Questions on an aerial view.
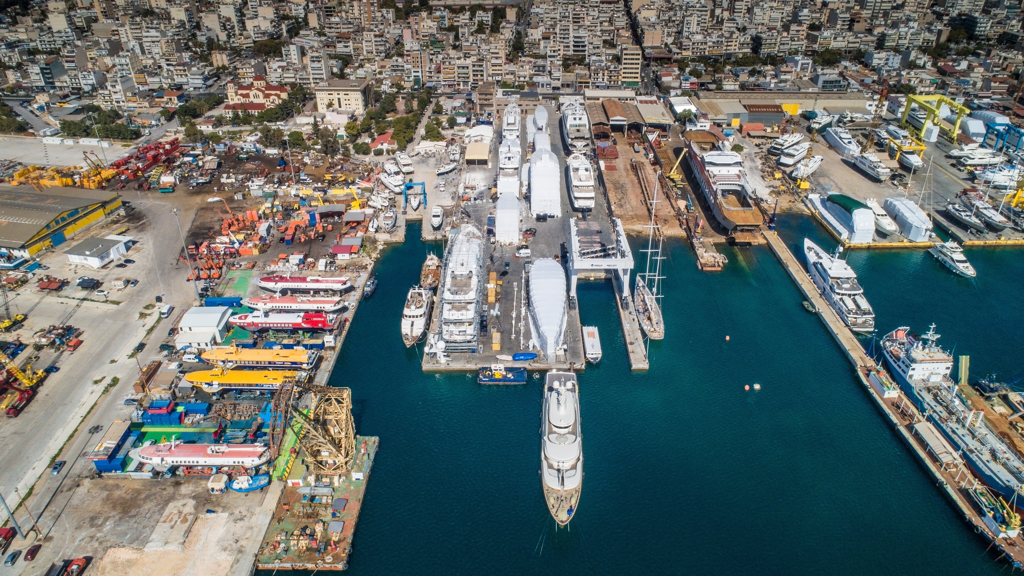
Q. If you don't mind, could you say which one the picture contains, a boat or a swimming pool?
boat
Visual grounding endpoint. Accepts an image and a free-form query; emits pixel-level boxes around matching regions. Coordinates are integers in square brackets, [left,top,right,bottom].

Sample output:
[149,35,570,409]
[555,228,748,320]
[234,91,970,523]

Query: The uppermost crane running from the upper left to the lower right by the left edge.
[0,327,54,384]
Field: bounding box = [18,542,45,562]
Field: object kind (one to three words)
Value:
car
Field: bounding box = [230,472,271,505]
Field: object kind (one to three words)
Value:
boat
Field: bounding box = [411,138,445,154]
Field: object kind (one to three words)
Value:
building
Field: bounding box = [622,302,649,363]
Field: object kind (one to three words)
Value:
pier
